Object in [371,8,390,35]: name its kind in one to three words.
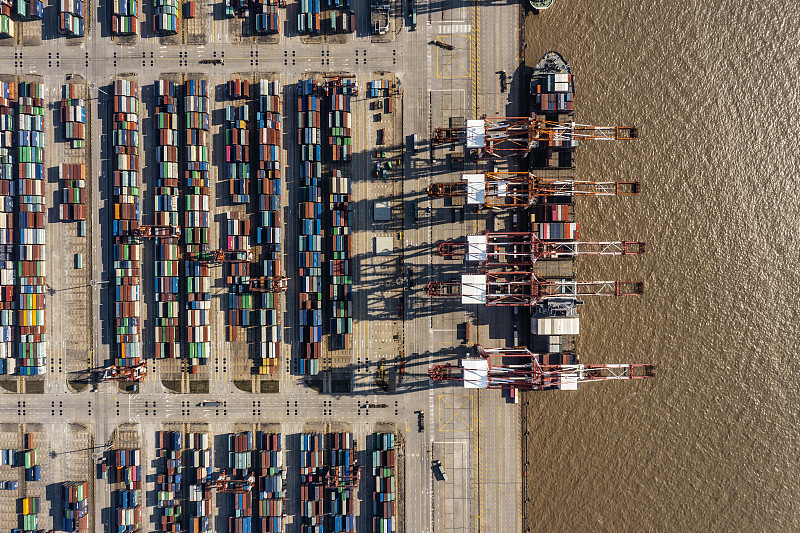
building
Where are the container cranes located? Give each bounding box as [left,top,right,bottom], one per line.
[427,267,645,309]
[213,248,254,264]
[438,230,646,270]
[427,171,641,216]
[251,276,288,292]
[103,362,146,381]
[427,342,656,393]
[215,468,255,492]
[324,76,359,98]
[326,465,361,488]
[430,116,638,166]
[139,224,183,241]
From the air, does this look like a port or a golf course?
port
